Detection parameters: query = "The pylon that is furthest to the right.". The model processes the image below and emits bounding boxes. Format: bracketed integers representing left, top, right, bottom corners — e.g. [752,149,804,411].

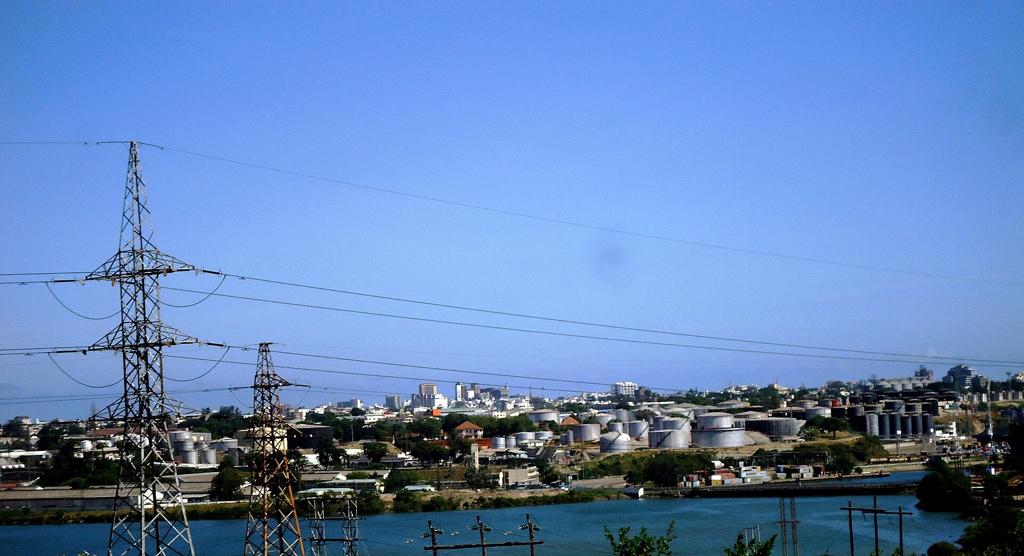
[229,342,322,556]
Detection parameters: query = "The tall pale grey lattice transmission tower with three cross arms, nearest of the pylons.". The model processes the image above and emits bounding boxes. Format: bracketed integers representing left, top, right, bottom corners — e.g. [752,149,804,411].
[32,142,248,556]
